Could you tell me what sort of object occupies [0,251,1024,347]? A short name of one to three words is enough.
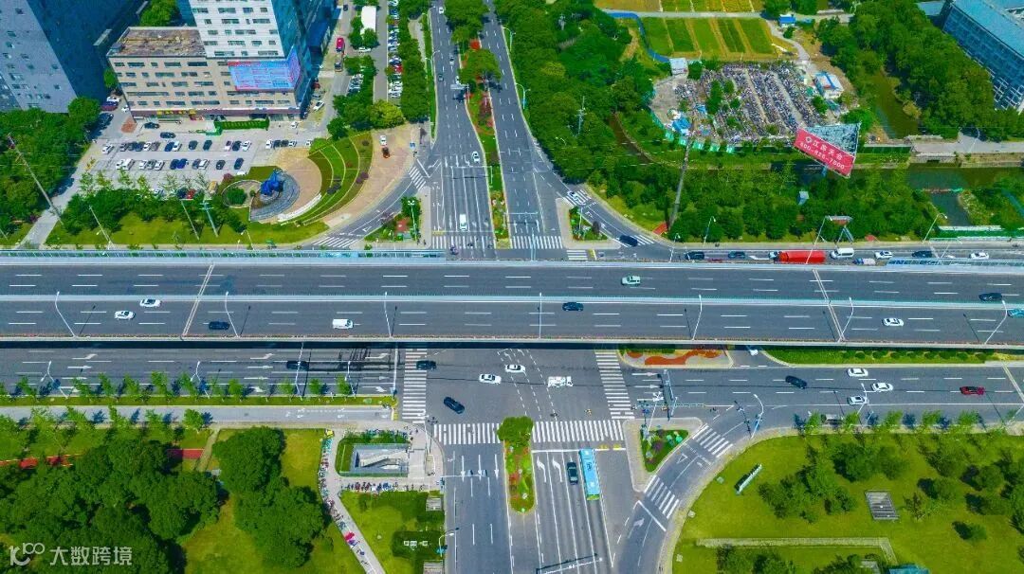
overpass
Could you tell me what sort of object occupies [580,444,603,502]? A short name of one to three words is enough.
bus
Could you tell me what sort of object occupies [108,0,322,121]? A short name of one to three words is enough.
building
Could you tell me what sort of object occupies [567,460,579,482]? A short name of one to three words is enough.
vehicle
